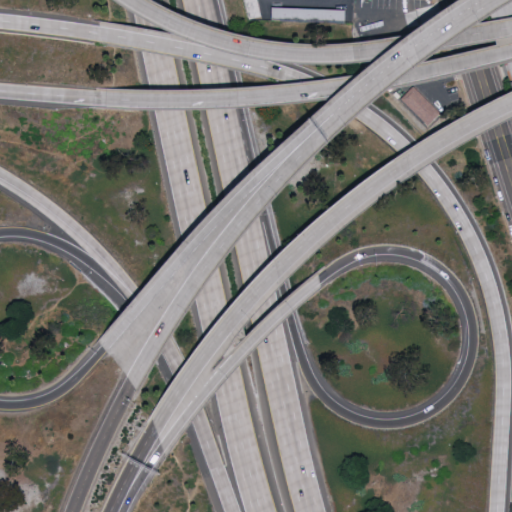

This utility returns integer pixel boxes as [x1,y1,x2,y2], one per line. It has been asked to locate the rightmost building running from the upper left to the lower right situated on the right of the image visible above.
[401,86,440,128]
